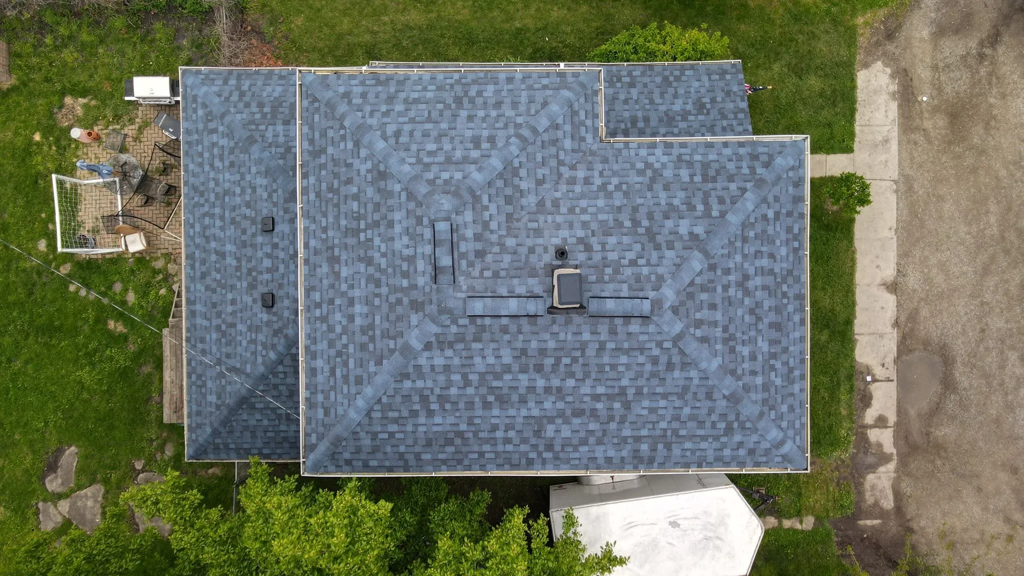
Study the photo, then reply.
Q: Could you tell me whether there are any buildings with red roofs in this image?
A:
No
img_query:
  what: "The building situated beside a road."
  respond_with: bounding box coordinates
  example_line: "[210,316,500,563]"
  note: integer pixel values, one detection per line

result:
[179,61,809,475]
